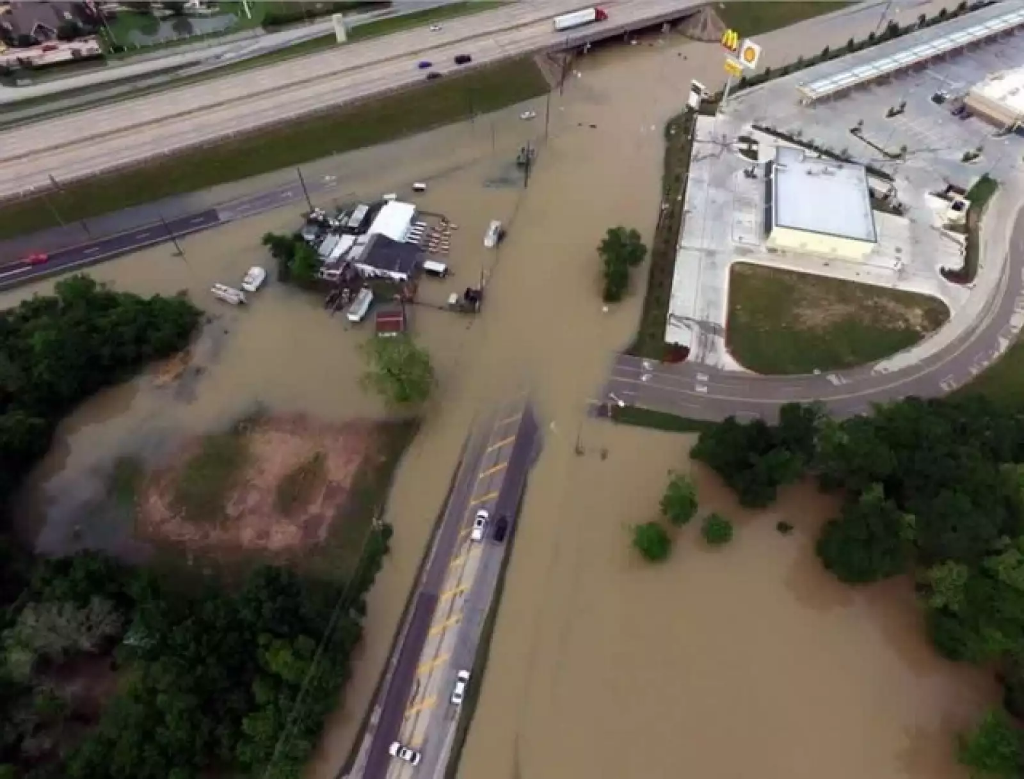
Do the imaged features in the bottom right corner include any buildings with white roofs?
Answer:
No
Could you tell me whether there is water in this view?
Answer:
Yes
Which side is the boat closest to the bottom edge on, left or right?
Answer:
left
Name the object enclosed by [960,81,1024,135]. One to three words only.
building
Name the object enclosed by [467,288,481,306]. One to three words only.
work vehicle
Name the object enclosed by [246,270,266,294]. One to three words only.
vehicle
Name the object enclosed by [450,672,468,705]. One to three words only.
car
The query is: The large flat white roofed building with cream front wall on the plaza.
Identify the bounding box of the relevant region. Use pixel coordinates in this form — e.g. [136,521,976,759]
[763,150,872,262]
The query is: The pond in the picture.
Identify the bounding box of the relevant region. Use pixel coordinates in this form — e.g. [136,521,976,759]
[133,16,237,45]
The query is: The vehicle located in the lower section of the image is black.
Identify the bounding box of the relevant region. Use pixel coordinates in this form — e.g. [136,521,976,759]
[493,515,508,541]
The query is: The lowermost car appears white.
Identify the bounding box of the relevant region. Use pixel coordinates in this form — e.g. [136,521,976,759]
[388,742,422,767]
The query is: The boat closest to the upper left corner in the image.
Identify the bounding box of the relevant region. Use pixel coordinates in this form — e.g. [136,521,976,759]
[208,284,247,304]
